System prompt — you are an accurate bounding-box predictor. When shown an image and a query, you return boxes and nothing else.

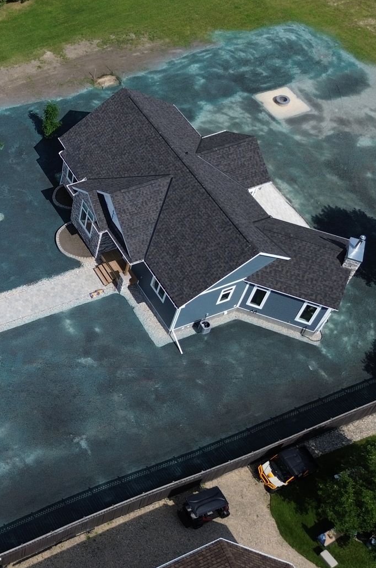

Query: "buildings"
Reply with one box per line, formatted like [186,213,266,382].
[164,543,282,568]
[59,85,368,356]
